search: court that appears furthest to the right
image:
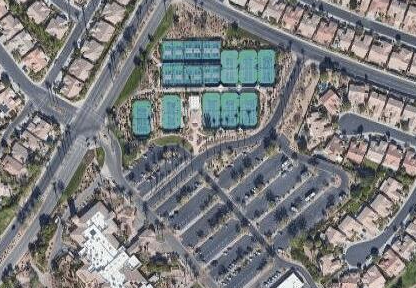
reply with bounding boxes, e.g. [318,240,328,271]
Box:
[258,50,275,83]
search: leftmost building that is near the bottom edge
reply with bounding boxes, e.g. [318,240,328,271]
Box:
[64,201,151,288]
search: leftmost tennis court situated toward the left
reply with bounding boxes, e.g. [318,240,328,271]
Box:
[132,101,150,138]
